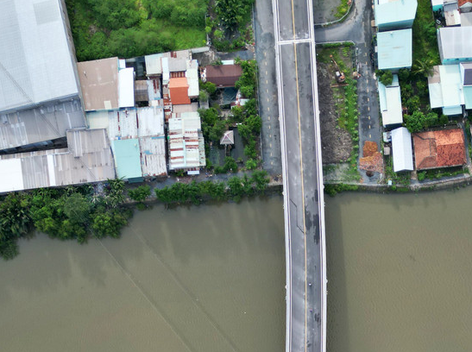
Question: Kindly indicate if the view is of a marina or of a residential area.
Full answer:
The area seen from above is a residential area.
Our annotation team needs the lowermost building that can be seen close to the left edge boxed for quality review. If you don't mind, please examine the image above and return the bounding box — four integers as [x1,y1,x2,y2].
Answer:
[0,128,119,196]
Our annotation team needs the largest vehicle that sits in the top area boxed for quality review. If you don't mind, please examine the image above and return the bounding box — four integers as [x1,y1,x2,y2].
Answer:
[327,51,348,84]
